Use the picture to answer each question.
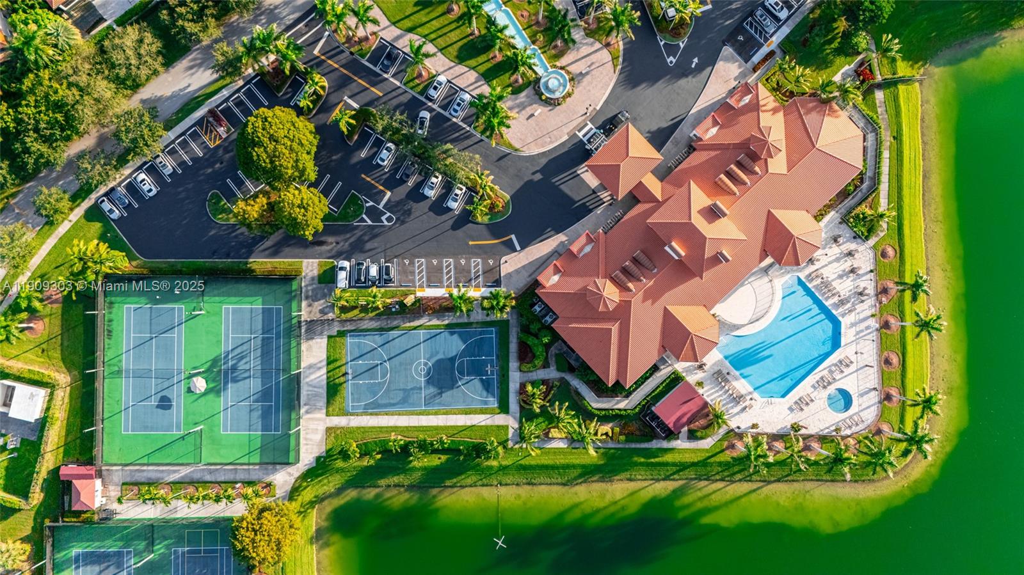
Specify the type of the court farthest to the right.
basketball court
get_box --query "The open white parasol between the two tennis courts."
[190,376,207,393]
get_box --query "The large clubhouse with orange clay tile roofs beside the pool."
[535,82,863,388]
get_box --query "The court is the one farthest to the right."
[346,327,500,414]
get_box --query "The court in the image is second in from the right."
[203,279,301,465]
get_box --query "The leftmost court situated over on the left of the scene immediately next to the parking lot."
[102,279,203,466]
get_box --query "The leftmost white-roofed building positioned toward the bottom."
[0,379,57,422]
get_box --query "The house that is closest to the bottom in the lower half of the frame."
[60,465,103,510]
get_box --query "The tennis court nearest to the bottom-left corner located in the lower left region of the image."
[52,523,154,575]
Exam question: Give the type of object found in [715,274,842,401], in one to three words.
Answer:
swimming pool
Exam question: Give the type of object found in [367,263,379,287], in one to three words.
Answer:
vehicle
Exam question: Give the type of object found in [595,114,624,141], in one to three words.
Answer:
truck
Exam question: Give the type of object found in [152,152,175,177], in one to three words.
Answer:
car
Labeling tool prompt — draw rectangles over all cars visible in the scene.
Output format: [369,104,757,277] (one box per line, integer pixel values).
[336,260,350,288]
[450,92,470,117]
[398,157,418,183]
[764,0,787,21]
[573,0,590,23]
[417,111,430,135]
[135,171,158,196]
[376,141,397,167]
[353,259,367,286]
[379,46,399,72]
[152,152,175,177]
[384,262,394,285]
[753,9,777,34]
[367,263,379,287]
[423,173,443,197]
[108,184,131,209]
[446,184,467,210]
[427,74,447,100]
[98,195,122,220]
